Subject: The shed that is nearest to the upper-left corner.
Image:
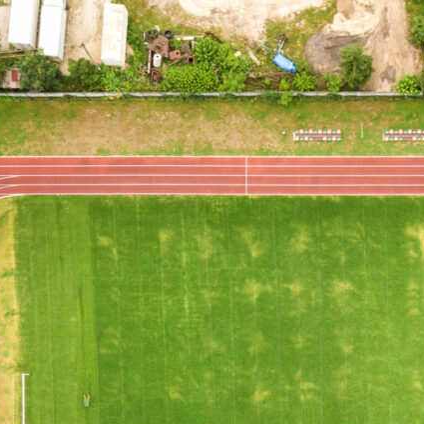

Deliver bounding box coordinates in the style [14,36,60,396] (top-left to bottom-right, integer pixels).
[8,0,40,52]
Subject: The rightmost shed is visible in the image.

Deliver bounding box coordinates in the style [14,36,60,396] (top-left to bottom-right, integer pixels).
[39,0,69,64]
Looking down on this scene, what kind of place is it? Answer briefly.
sports ground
